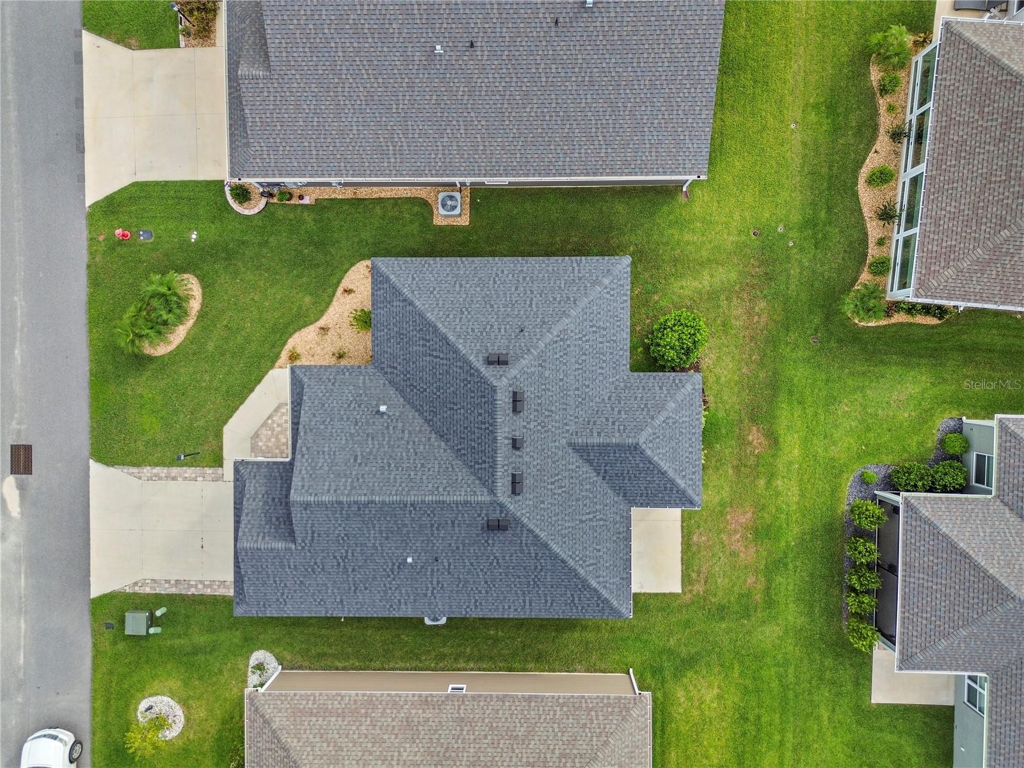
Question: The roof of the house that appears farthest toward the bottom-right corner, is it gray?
Yes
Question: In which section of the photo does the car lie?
bottom left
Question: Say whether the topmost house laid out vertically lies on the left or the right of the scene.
right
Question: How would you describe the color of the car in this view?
white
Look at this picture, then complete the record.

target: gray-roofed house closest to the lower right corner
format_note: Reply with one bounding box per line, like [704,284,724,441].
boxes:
[872,414,1024,768]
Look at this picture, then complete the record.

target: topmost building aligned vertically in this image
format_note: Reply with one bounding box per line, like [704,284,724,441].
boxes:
[888,0,1024,313]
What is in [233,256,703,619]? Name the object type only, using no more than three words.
house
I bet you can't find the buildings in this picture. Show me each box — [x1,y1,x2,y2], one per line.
[872,414,1024,768]
[888,0,1024,313]
[227,0,727,193]
[246,661,652,768]
[233,256,703,619]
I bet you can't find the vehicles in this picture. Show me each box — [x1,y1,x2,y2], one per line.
[17,720,89,768]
